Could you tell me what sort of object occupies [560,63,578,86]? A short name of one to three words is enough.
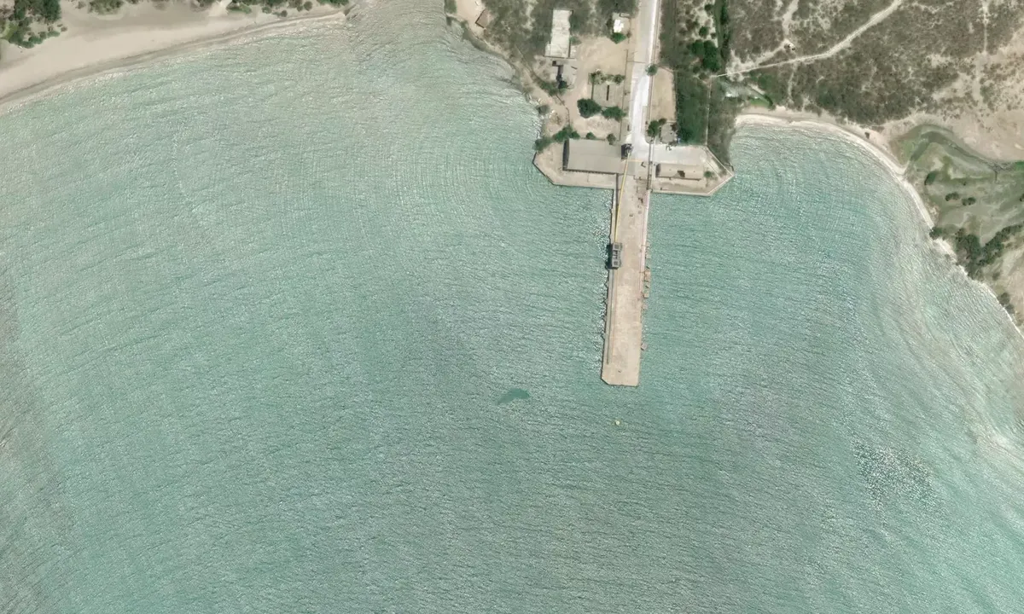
house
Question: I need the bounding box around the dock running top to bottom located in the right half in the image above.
[601,187,651,387]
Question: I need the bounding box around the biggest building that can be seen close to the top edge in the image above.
[543,10,576,58]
